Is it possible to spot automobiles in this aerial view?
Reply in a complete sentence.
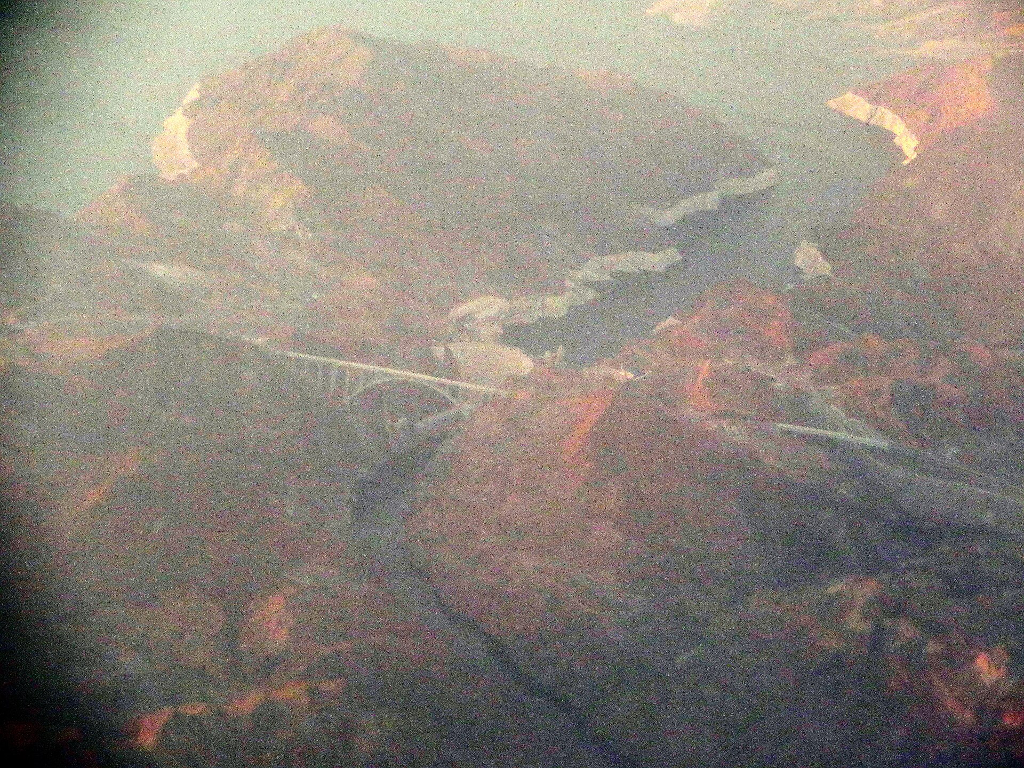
No, I can see no automobile in this picture.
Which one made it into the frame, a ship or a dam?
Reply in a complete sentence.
Visible in the photo is a dam.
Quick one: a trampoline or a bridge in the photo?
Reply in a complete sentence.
There is a bridge in the scene.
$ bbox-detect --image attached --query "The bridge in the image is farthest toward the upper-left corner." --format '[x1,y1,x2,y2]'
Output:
[247,337,519,429]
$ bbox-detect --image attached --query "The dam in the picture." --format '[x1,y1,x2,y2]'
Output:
[434,340,537,423]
